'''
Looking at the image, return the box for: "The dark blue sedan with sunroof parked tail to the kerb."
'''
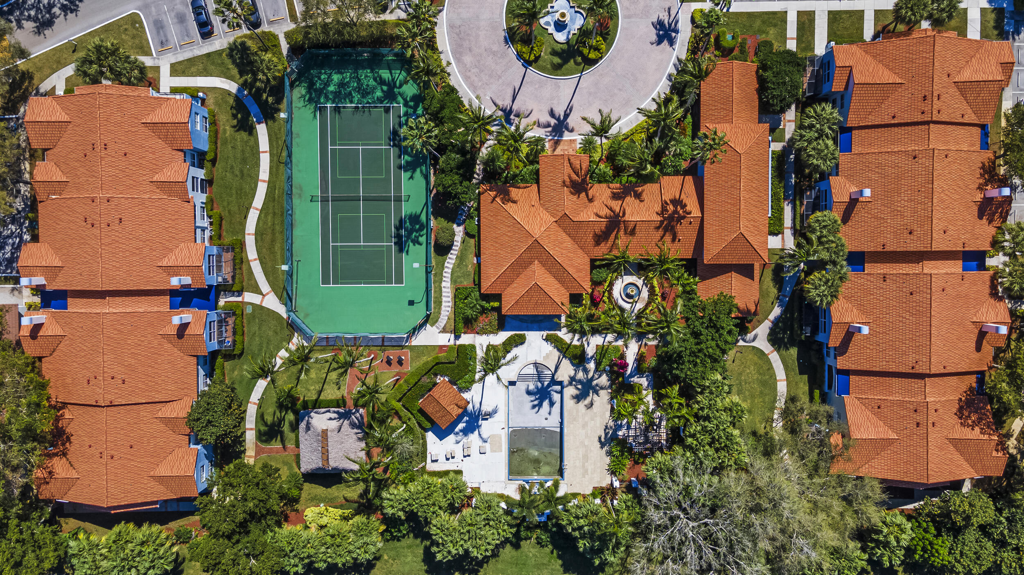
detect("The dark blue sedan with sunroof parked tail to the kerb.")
[190,0,215,36]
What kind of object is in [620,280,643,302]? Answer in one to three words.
fountain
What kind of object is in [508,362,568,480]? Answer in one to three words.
swimming pool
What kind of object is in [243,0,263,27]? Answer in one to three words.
car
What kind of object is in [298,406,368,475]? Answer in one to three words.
shed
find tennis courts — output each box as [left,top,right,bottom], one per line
[292,56,431,333]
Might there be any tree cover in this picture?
Yes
